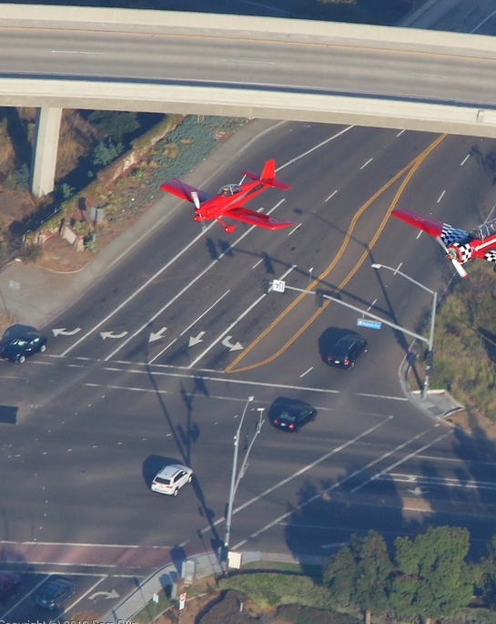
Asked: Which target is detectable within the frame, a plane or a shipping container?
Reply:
plane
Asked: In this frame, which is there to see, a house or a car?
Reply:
car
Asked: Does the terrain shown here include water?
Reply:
No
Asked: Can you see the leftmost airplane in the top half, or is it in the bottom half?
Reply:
top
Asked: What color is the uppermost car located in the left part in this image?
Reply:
blue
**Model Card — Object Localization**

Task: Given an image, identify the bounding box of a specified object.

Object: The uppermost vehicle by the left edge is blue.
[0,325,47,359]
